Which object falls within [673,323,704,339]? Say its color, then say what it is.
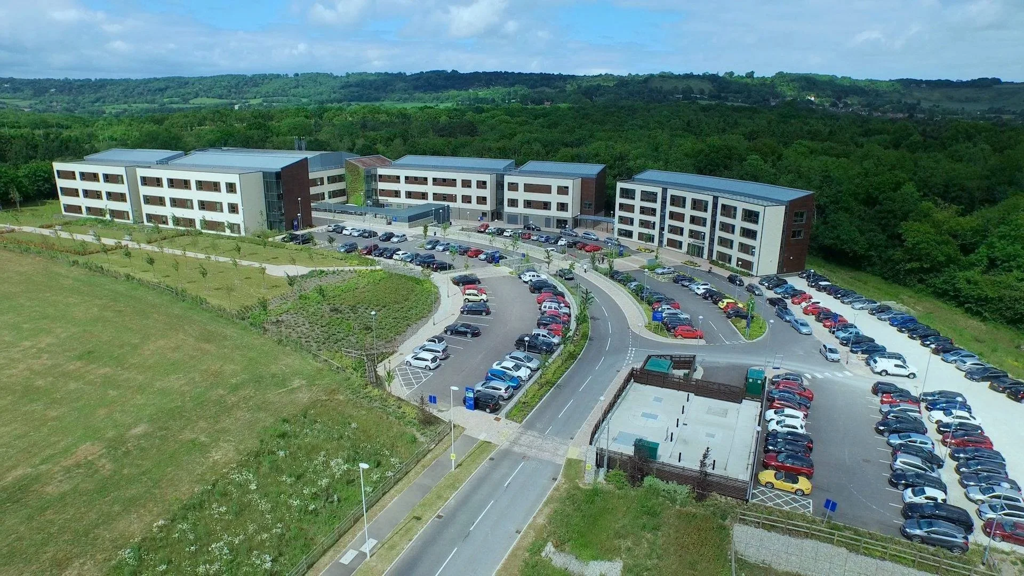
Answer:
red car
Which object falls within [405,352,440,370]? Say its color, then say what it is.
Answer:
white car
